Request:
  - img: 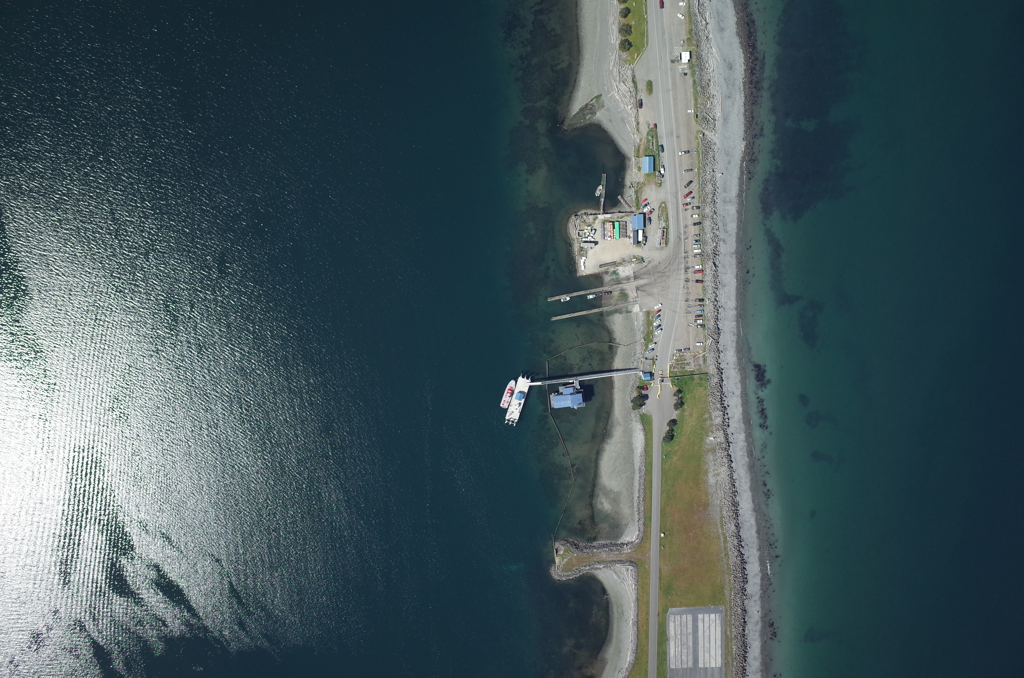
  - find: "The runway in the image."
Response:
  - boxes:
[667,606,725,678]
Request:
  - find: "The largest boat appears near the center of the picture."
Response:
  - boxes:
[500,380,514,409]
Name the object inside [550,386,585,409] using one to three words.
house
